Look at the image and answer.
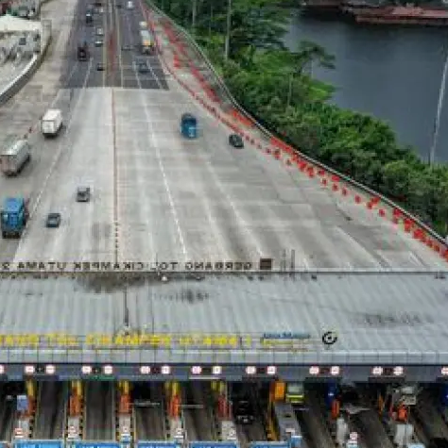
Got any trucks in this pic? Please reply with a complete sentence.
Yes, a truck is visible in the scene.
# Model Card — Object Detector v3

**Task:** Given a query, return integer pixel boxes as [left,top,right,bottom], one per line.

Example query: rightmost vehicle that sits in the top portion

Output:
[226,132,242,145]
